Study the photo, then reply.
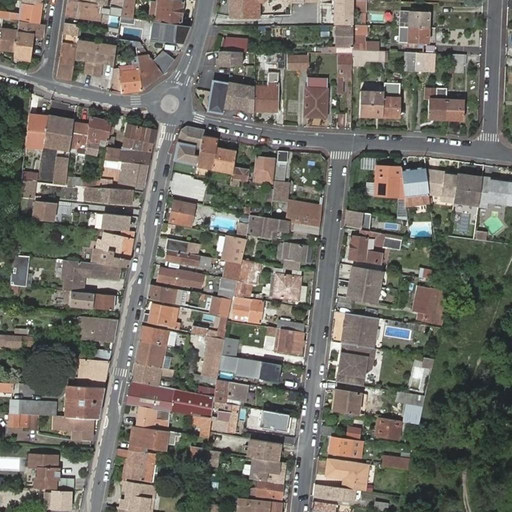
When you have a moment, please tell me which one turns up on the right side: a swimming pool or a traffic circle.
swimming pool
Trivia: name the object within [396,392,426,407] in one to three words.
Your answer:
building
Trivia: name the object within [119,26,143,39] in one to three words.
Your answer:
swimming pool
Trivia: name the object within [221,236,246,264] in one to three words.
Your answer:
house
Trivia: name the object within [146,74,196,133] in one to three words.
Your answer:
roundabout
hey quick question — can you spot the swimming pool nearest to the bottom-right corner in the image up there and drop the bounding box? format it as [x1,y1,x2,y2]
[383,326,412,340]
